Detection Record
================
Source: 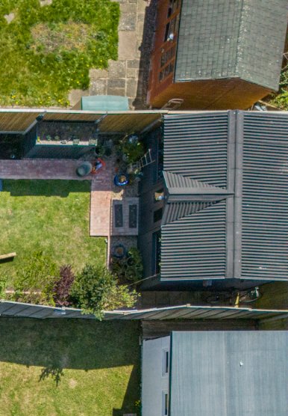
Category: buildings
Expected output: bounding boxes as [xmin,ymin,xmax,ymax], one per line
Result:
[140,112,288,290]
[148,0,283,109]
[142,331,288,416]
